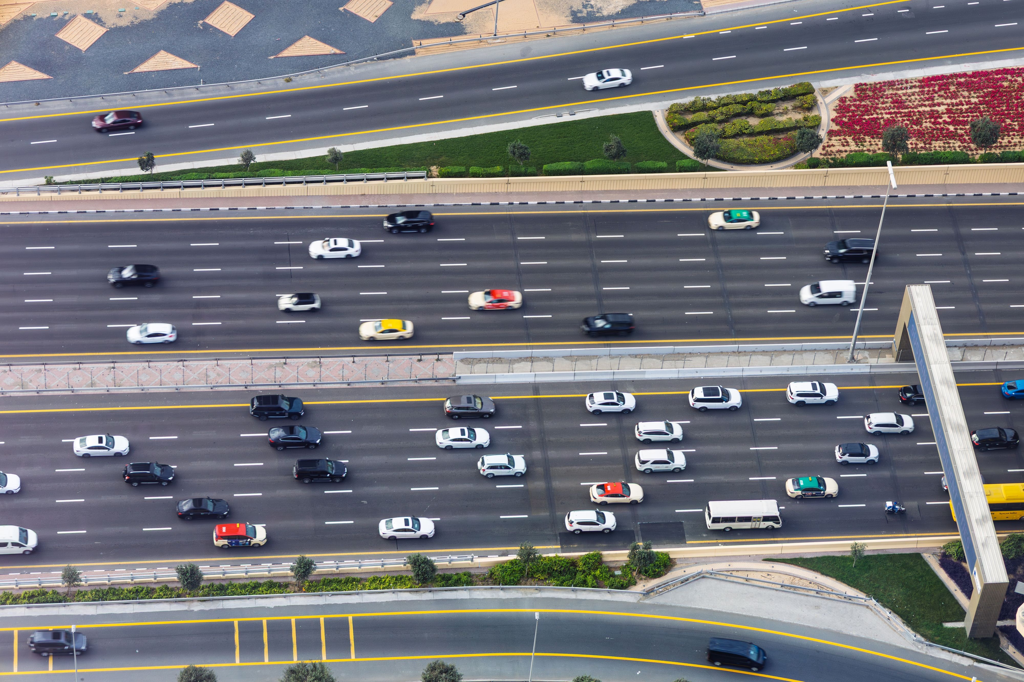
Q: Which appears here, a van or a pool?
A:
van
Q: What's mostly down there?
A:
paved ground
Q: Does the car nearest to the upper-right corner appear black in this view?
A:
Yes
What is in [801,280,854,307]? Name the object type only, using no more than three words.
vehicle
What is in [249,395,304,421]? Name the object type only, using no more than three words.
car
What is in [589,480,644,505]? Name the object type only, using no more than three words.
car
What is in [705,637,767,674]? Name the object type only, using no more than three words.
van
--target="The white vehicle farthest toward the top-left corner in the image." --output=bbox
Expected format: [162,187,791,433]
[127,322,176,345]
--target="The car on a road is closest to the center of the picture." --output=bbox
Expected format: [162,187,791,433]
[469,288,521,311]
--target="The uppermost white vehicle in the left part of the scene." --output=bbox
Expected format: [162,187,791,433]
[309,237,361,259]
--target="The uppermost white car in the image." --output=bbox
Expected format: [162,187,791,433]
[583,69,631,91]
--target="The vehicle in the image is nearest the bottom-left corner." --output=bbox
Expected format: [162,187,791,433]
[26,629,87,658]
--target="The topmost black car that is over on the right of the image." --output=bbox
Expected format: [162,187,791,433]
[825,239,875,264]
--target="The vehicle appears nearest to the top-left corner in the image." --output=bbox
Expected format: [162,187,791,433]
[92,111,143,133]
